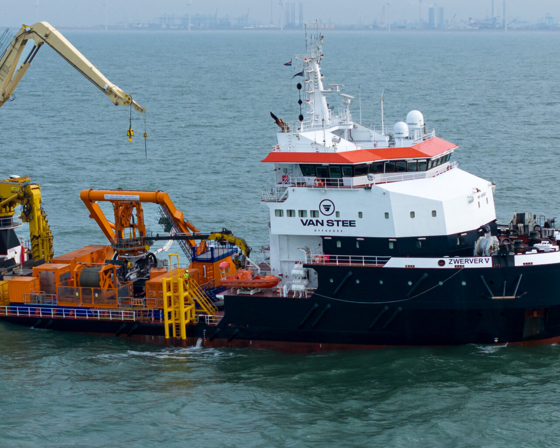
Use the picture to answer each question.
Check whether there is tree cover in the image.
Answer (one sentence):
No, there is no tree cover in the image.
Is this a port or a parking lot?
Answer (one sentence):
What you see here is a port.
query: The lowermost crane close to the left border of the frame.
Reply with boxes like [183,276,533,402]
[0,174,52,258]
